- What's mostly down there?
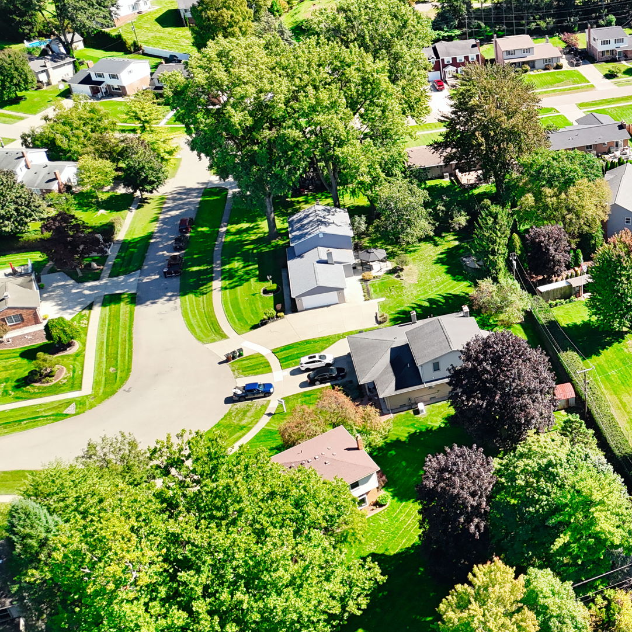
trees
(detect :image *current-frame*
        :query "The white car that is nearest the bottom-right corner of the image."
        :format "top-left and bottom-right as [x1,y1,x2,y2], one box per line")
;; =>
[299,352,335,371]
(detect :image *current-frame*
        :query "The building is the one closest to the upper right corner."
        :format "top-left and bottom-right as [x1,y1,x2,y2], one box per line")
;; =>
[577,23,632,64]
